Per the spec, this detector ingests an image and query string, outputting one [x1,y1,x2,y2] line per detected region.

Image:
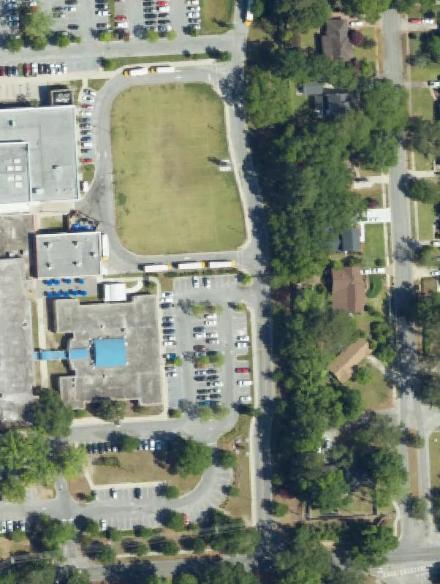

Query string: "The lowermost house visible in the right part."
[327,338,371,384]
